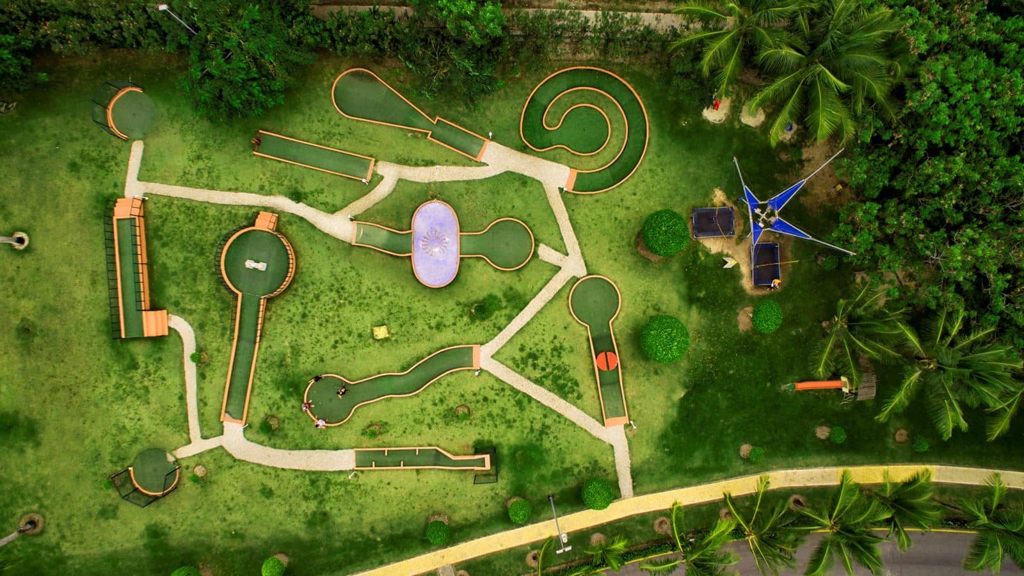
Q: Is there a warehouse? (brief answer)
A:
No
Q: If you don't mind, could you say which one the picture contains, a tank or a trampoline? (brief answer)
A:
trampoline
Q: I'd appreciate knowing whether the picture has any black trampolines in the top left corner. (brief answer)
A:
No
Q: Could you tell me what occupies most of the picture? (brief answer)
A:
grass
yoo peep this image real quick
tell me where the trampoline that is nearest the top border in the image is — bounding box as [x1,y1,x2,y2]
[689,206,735,239]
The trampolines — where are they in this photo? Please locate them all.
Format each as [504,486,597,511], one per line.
[689,206,735,239]
[747,242,781,286]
